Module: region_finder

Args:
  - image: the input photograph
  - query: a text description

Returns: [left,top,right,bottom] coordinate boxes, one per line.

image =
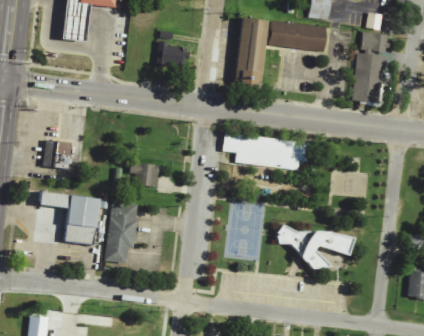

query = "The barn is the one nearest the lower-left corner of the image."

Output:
[28,314,48,336]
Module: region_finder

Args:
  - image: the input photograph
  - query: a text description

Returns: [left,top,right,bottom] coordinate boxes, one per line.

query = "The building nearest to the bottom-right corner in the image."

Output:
[408,272,424,300]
